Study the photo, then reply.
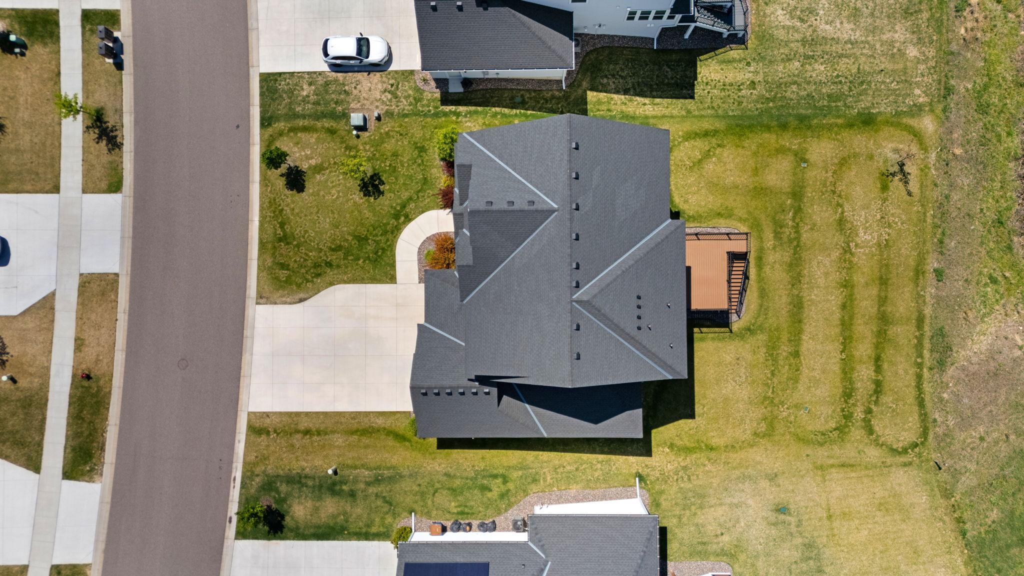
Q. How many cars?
1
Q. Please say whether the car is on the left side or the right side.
left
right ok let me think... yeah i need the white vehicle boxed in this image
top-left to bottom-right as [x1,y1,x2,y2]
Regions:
[322,31,391,67]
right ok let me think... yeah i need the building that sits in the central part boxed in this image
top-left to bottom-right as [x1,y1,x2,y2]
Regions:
[410,113,687,439]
